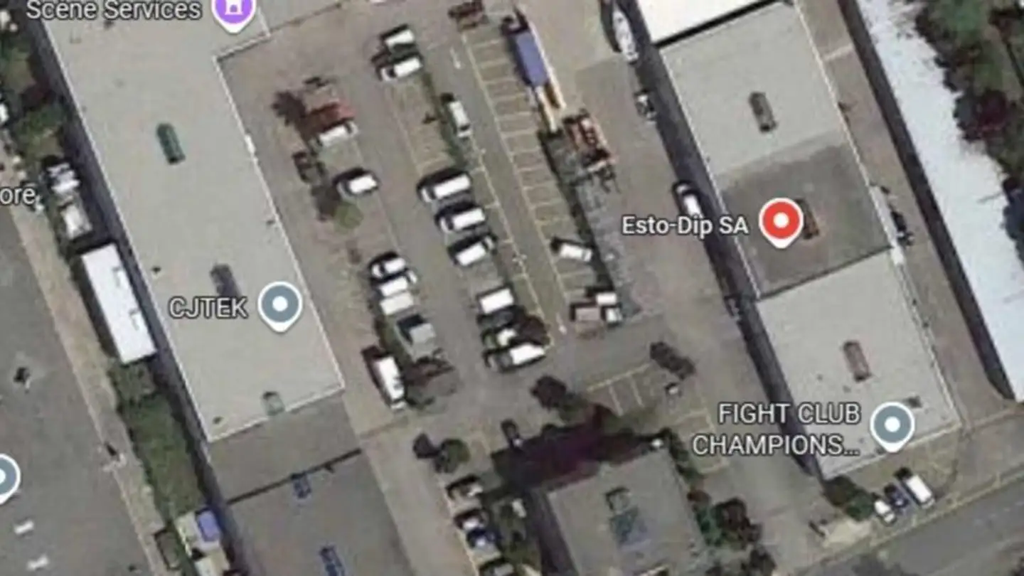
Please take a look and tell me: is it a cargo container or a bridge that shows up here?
cargo container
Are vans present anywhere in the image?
Yes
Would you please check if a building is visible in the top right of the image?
Yes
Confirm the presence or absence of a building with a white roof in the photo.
Yes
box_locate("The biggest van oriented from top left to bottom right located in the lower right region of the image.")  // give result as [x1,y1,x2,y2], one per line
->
[895,464,936,512]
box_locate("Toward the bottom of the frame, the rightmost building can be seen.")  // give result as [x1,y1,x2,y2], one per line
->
[756,245,970,479]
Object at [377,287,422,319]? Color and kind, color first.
white camper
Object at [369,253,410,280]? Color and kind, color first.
white car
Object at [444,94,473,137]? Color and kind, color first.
white car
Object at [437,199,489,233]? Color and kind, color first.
white van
